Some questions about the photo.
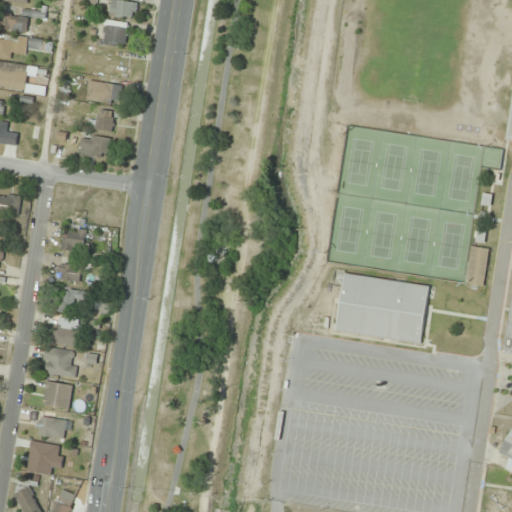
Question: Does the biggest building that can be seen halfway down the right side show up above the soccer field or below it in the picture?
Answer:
below it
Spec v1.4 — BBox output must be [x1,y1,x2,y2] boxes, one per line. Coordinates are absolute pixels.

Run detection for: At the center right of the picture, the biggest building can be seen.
[336,272,432,345]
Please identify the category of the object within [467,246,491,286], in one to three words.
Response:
building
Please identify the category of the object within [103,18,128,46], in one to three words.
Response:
house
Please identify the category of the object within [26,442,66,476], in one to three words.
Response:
house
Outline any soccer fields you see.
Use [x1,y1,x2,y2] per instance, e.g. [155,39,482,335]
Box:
[362,0,465,107]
